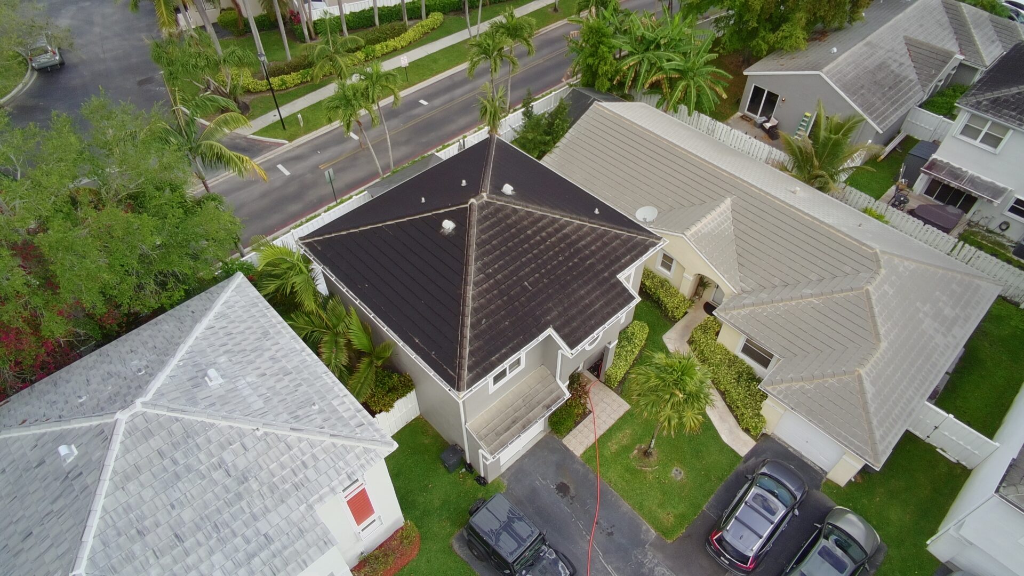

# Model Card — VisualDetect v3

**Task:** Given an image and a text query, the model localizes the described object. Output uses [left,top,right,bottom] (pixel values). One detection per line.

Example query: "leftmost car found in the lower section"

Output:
[466,492,569,576]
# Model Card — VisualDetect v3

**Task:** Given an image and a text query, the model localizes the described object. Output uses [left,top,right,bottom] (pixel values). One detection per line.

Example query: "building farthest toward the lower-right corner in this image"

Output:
[909,402,1024,576]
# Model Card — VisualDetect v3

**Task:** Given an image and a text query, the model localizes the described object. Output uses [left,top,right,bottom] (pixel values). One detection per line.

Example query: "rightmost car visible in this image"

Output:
[788,510,876,576]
